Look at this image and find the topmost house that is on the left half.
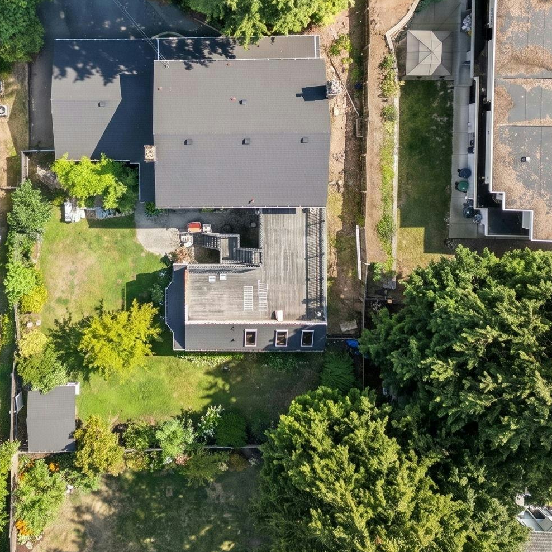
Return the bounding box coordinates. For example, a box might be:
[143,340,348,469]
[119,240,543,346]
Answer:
[50,30,343,208]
